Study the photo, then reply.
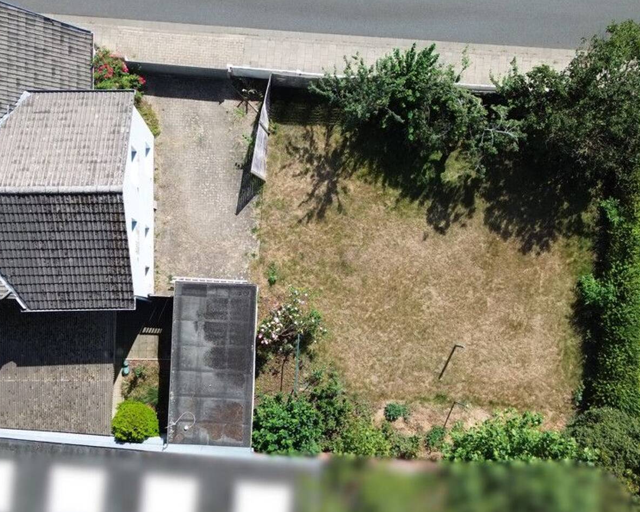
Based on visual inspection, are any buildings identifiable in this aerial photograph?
Yes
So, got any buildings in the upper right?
No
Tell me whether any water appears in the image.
No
